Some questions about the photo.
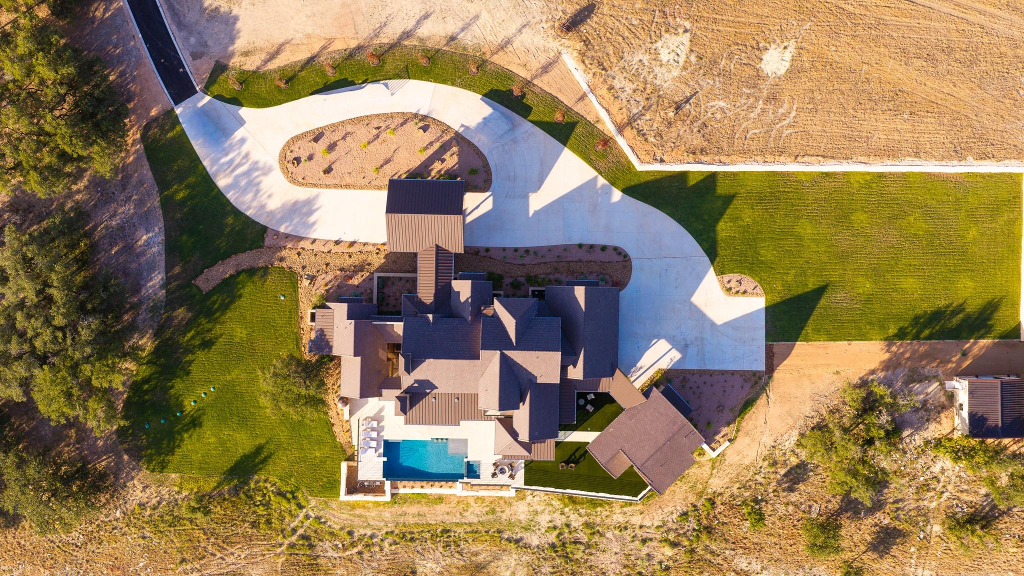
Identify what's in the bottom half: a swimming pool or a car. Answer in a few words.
swimming pool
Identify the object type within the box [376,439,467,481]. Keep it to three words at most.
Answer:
swimming pool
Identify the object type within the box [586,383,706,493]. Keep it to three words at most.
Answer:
house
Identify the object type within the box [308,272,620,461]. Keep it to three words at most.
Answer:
house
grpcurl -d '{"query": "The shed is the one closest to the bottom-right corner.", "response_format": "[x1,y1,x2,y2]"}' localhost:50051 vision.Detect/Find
[954,375,1024,439]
